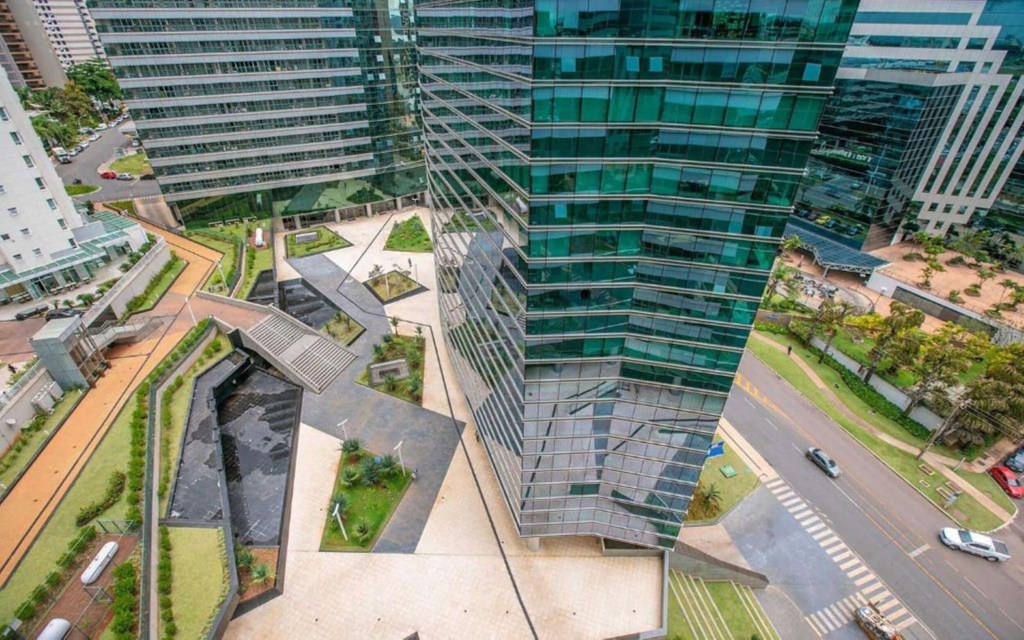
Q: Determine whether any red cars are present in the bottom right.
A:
Yes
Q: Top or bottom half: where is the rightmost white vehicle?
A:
bottom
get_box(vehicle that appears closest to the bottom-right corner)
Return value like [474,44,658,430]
[944,530,1015,564]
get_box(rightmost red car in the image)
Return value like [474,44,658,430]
[986,466,1024,499]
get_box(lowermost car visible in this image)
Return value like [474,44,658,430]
[851,598,910,640]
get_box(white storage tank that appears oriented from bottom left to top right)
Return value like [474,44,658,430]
[82,544,120,580]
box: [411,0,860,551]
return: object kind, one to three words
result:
building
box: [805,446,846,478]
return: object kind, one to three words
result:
car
